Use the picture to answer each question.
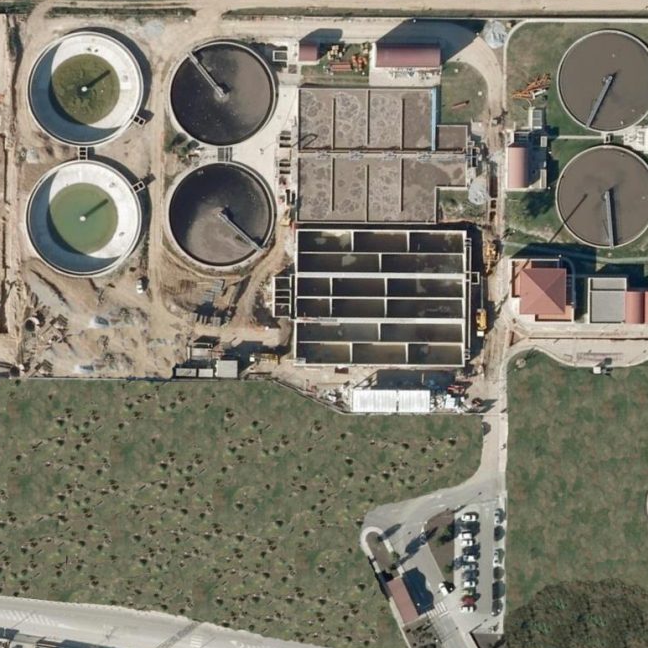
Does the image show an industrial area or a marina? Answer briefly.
industrial area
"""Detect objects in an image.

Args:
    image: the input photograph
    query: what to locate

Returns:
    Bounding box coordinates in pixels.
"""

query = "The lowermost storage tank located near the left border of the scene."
[26,161,142,276]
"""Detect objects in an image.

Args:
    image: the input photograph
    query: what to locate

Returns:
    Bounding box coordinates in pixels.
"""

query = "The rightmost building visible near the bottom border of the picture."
[387,577,420,626]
